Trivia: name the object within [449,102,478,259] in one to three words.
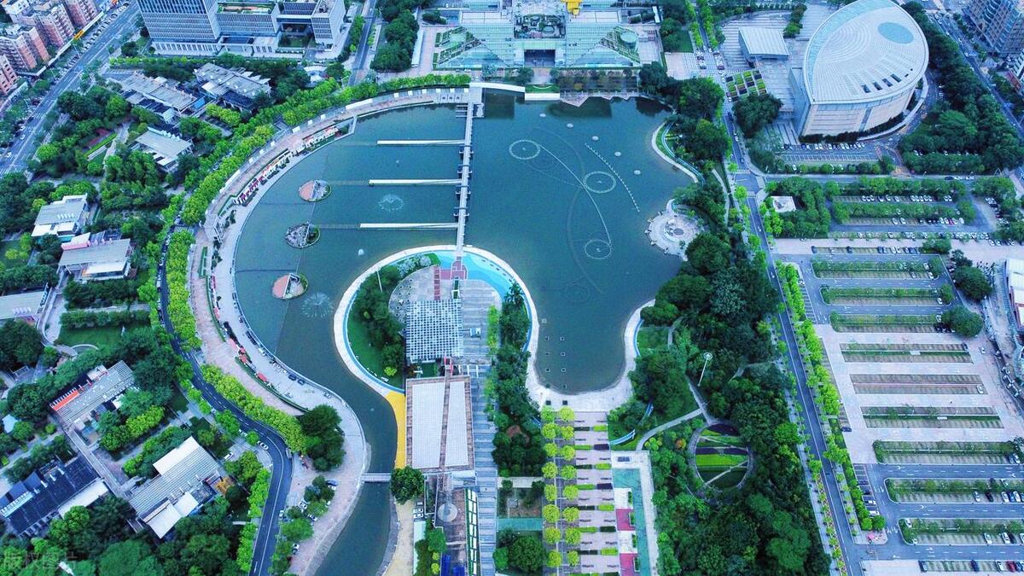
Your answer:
bridge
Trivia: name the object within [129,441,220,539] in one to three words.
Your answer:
building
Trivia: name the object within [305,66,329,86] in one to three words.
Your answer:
shed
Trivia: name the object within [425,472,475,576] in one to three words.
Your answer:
building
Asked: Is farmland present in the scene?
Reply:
No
